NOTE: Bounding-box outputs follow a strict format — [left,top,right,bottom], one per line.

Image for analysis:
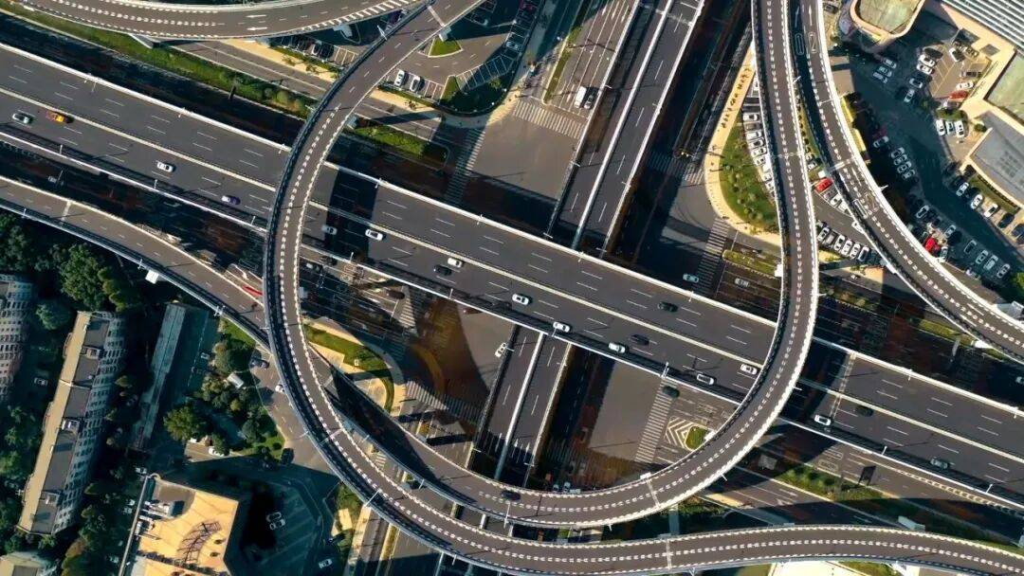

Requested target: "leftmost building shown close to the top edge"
[831,0,924,52]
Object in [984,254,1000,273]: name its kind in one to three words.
vehicle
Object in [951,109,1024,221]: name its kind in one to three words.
building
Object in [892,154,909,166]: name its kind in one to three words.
vehicle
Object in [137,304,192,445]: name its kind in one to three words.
shed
